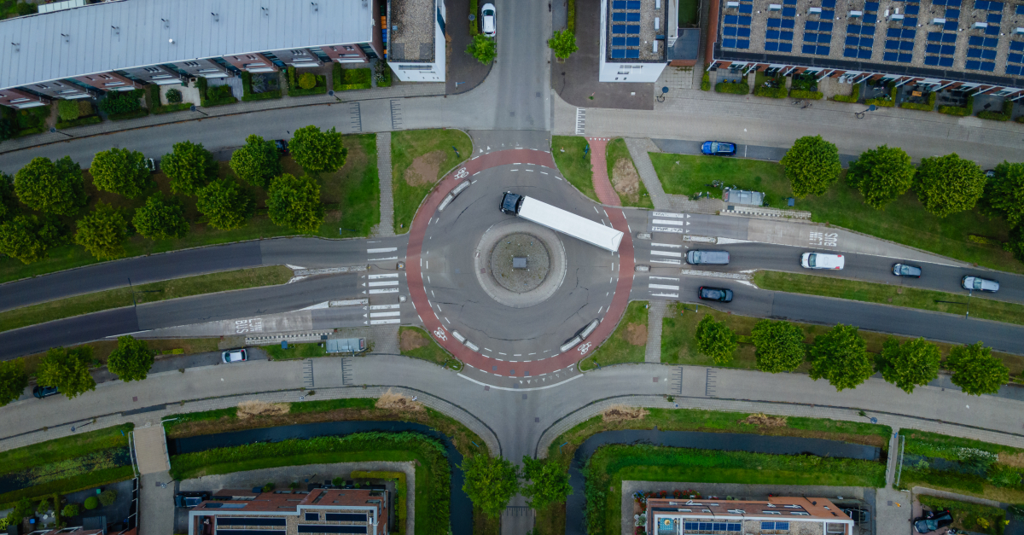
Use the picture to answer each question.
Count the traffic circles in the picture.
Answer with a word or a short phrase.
one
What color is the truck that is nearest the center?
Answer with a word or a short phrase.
white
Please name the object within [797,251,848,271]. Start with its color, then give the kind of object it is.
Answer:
white vehicle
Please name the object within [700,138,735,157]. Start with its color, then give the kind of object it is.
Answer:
blue car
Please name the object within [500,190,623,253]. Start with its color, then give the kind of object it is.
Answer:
white truck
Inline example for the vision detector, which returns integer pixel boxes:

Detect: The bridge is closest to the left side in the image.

[127,420,175,477]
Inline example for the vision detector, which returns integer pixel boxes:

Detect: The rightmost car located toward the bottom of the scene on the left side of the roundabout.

[223,348,249,363]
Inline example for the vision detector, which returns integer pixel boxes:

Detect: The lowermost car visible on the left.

[175,490,209,508]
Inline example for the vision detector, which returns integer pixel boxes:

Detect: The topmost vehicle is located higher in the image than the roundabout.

[480,4,497,38]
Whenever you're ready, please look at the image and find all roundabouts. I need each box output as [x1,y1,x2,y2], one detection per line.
[405,130,635,388]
